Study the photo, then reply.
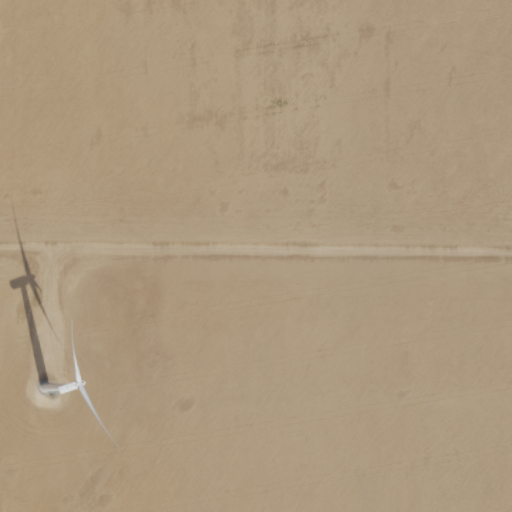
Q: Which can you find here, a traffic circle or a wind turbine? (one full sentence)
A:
I can see a wind turbine in this picture.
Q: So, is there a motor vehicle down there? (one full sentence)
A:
No, no motor vehicle can be seen from above.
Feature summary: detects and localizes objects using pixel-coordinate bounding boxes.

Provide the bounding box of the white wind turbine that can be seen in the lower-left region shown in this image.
[40,316,116,439]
